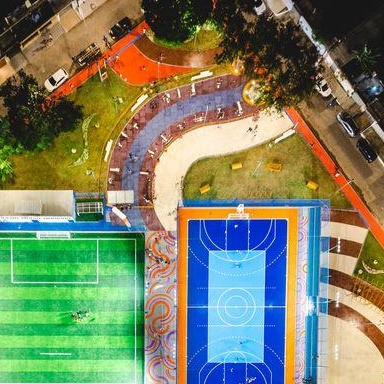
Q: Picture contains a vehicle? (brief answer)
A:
Yes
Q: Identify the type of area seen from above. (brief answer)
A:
sports ground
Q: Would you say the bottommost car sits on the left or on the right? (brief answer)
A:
right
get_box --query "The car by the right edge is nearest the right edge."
[354,136,378,163]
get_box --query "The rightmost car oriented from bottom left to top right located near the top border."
[104,14,135,42]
